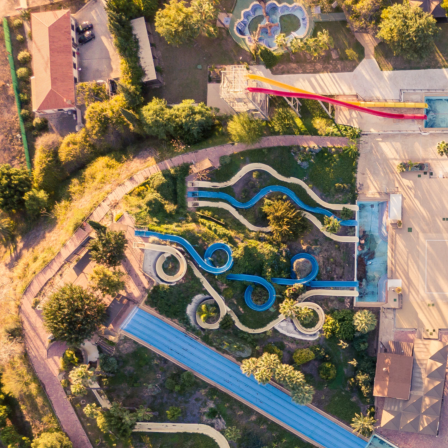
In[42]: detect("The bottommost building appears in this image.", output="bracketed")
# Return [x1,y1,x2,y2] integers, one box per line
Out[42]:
[373,353,413,399]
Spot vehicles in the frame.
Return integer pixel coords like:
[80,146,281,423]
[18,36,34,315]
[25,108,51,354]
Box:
[80,31,95,45]
[79,21,94,33]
